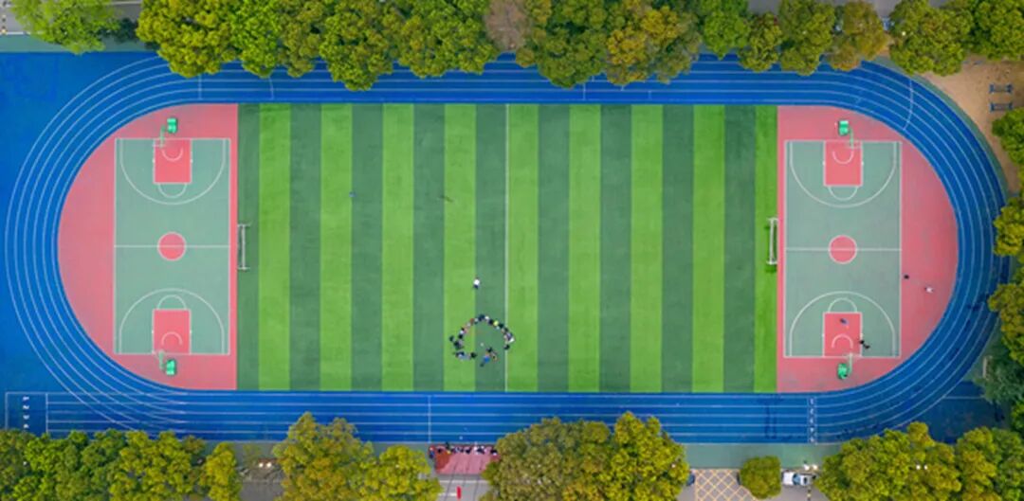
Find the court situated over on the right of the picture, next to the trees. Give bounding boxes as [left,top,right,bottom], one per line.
[777,106,958,392]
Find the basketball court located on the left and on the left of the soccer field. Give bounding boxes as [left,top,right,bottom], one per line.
[58,103,238,390]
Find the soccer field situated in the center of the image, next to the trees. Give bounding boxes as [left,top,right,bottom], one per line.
[236,103,778,392]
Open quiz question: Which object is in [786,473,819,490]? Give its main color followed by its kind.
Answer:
white car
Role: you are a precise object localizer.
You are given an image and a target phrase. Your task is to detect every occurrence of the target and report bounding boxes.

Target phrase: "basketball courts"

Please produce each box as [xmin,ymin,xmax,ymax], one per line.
[777,106,958,392]
[58,103,238,390]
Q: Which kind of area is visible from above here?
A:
sports ground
